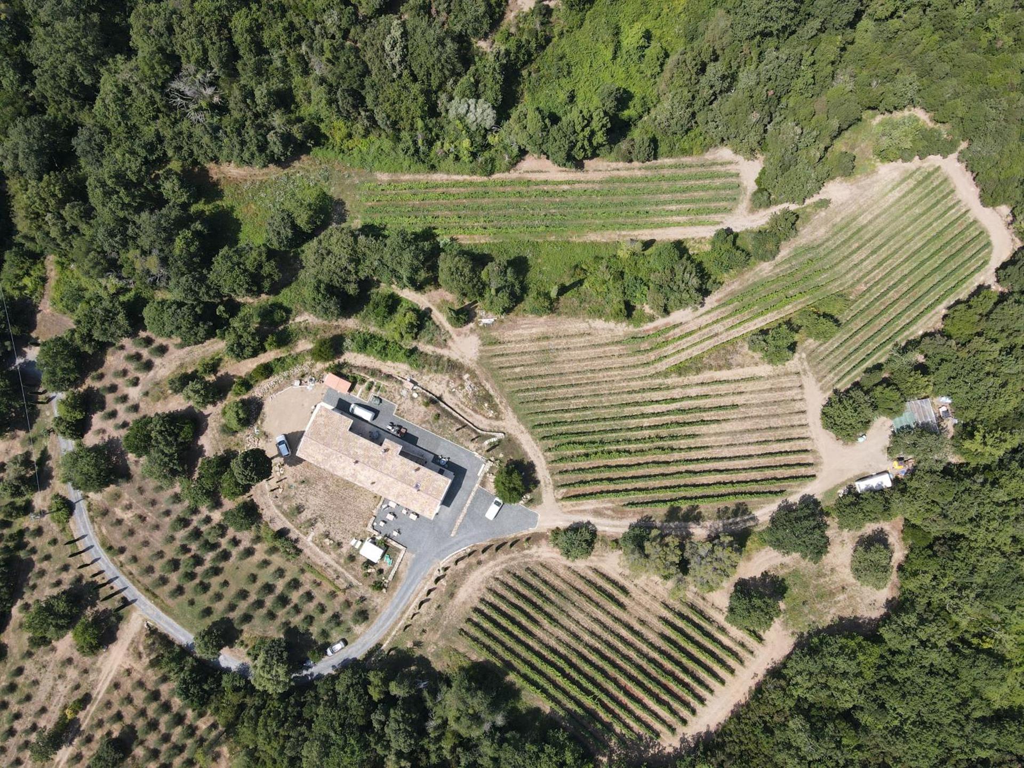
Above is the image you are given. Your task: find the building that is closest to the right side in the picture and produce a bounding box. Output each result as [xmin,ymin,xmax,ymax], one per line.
[888,398,940,433]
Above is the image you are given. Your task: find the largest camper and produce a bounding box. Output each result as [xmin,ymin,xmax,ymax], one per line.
[848,472,890,493]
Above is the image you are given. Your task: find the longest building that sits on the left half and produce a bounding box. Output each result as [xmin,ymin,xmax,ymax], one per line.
[299,404,455,516]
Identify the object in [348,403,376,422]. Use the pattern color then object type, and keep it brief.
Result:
white vehicle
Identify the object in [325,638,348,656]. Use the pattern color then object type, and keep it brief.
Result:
white car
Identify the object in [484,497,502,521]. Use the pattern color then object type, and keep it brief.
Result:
white vehicle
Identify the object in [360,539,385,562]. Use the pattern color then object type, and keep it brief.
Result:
white gazebo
